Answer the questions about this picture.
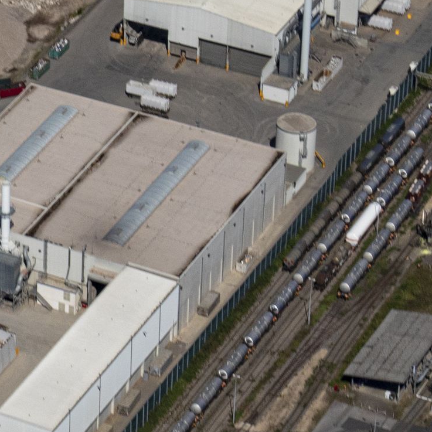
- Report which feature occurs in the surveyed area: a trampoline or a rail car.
rail car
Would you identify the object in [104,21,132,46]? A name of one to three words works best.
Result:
work vehicle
